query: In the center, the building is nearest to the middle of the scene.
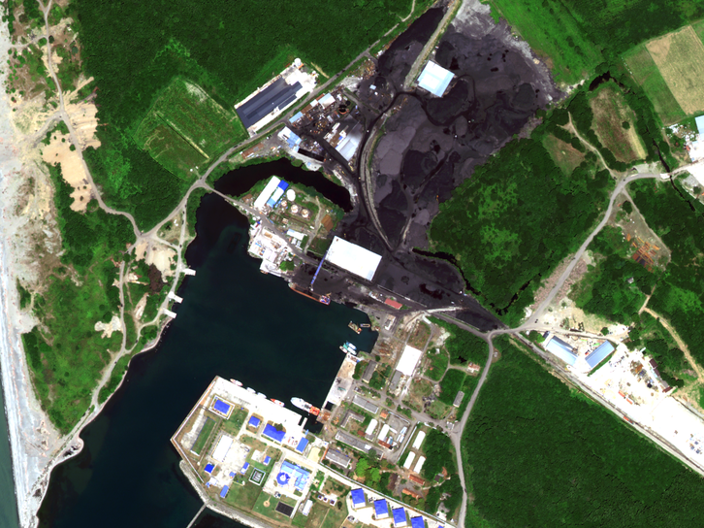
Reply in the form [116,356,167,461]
[325,237,382,283]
